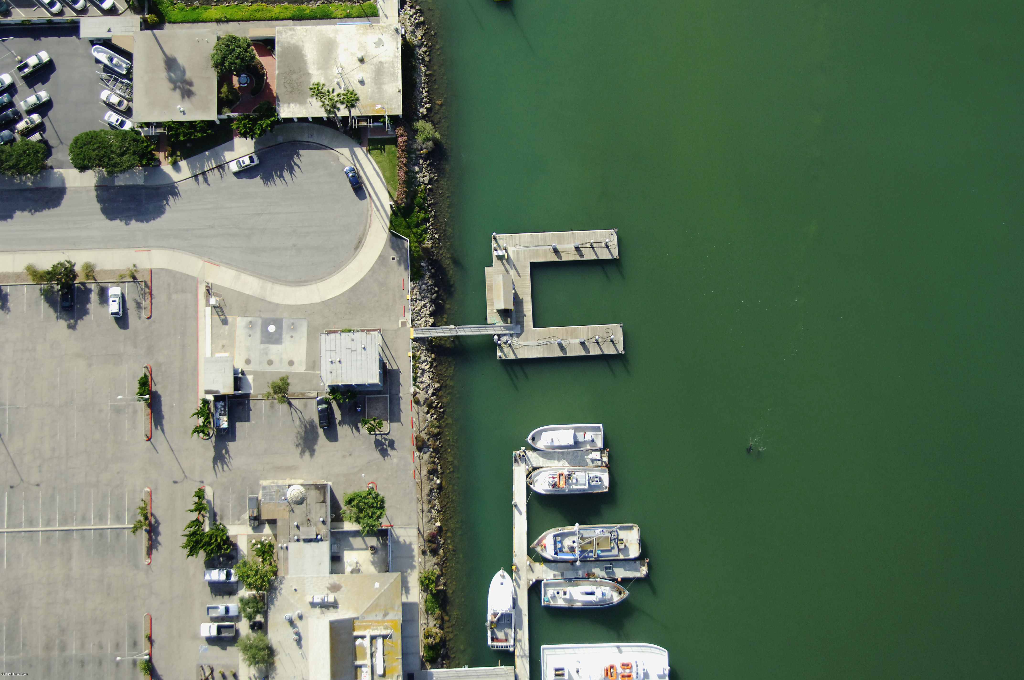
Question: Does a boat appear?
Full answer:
Yes, the picture does show a boat.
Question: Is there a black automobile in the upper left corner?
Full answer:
Yes, in the upper left corner there is a black automobile.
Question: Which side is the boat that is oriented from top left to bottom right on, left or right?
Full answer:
You can find the boat that is oriented from top left to bottom right on the left side of the picture.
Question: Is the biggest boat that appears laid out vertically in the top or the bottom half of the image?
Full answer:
You can find the biggest boat that appears laid out vertically in the bottom half.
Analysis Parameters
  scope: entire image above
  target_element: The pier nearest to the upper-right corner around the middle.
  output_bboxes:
[485,229,624,360]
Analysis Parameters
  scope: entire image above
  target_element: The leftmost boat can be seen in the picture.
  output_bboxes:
[93,45,132,74]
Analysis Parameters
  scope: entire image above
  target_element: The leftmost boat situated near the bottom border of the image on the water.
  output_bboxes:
[486,567,516,651]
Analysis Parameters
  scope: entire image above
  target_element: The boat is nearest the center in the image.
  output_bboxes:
[525,424,603,450]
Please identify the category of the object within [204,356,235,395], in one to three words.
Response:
building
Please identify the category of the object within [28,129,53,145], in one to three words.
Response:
vehicle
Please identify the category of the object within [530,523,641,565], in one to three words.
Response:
boat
